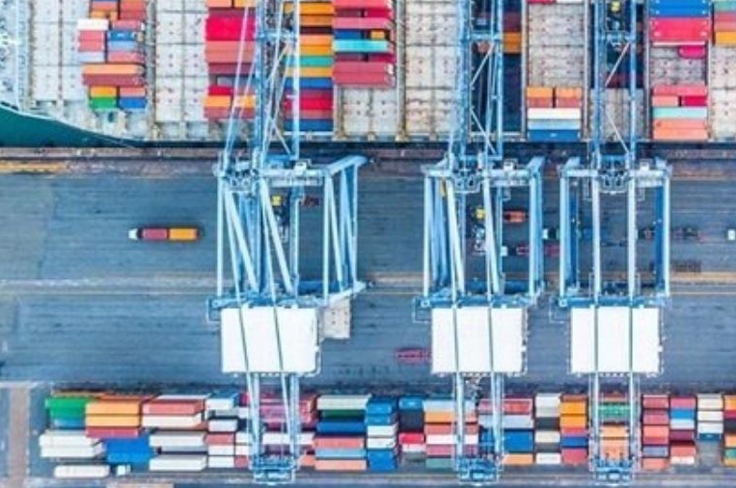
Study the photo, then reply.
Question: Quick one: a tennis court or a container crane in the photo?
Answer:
container crane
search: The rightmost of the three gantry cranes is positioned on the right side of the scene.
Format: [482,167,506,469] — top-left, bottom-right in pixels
[549,0,679,481]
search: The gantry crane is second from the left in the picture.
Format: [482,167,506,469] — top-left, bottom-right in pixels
[414,0,559,481]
